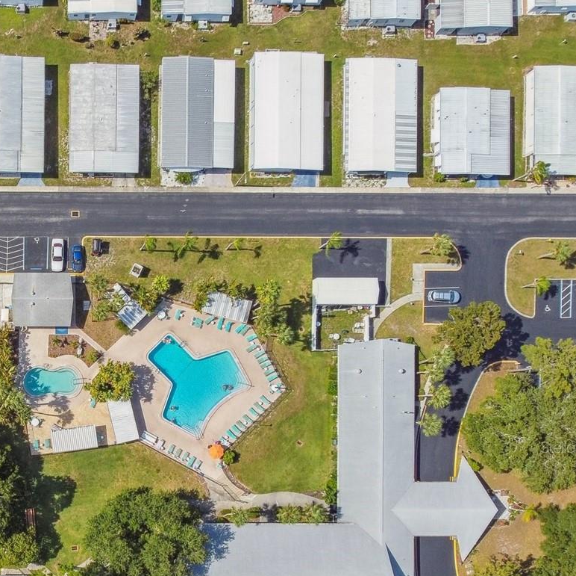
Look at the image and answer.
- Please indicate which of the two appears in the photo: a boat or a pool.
pool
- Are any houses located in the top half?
Yes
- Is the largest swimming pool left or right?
left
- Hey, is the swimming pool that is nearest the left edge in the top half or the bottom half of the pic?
bottom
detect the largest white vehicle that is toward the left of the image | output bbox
[50,239,64,272]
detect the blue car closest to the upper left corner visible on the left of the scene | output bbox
[71,245,84,273]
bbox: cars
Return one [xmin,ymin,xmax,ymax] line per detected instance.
[71,245,84,273]
[428,289,458,303]
[50,239,64,272]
